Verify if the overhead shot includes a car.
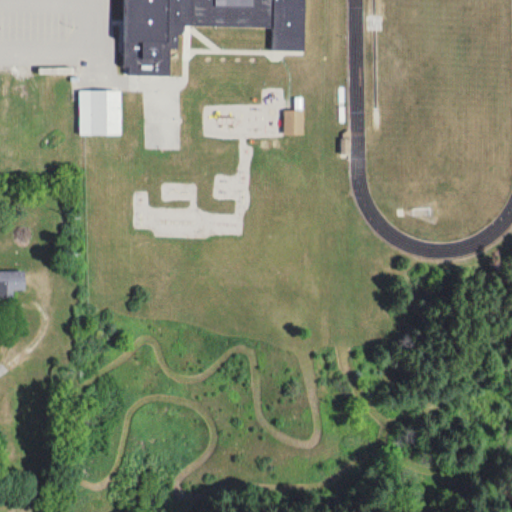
No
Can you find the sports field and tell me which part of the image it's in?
top right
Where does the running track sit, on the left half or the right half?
right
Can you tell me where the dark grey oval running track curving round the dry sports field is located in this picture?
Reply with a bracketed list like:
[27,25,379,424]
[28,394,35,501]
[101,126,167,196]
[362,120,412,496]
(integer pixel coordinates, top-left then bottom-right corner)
[348,0,512,260]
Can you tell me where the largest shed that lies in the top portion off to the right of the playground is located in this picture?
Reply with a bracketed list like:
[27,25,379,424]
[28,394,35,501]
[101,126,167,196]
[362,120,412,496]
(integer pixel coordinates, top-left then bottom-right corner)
[284,111,304,136]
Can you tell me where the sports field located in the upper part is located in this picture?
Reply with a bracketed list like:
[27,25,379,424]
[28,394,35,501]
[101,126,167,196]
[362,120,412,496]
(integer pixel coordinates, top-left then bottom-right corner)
[366,0,512,243]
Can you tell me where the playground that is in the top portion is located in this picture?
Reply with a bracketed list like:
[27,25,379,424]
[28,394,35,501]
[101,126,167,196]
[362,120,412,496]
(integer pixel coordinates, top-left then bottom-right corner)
[134,89,284,239]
